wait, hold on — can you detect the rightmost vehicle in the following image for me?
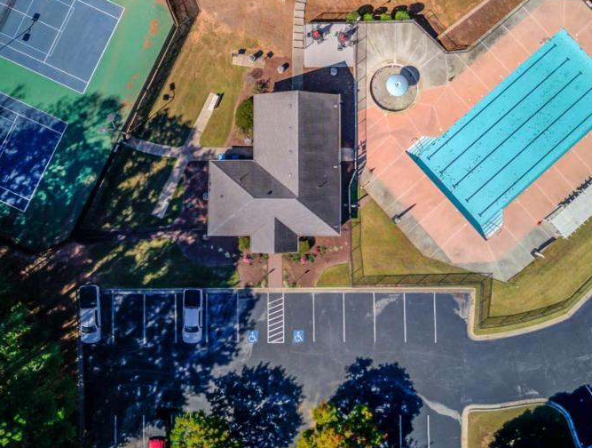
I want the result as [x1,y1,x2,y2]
[181,288,203,346]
